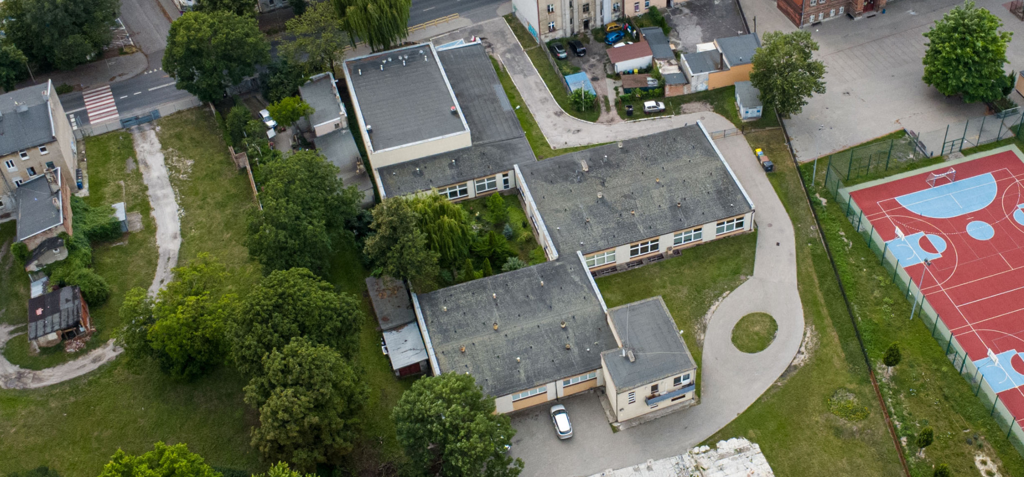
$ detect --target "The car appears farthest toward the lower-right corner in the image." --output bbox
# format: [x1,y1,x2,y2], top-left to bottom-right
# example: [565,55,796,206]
[548,403,573,440]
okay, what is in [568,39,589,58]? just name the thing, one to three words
car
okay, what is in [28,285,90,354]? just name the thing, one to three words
shed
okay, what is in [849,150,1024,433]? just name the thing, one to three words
sports court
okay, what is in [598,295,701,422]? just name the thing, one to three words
house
